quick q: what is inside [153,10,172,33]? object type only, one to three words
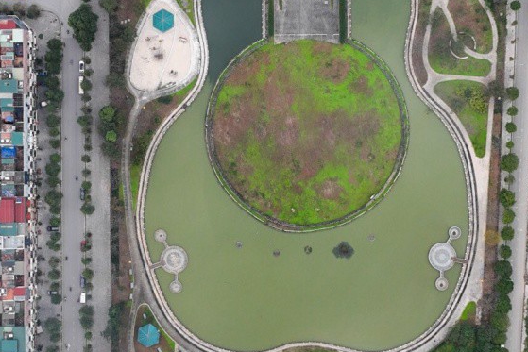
building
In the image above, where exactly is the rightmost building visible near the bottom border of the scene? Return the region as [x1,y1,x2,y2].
[139,325,158,346]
